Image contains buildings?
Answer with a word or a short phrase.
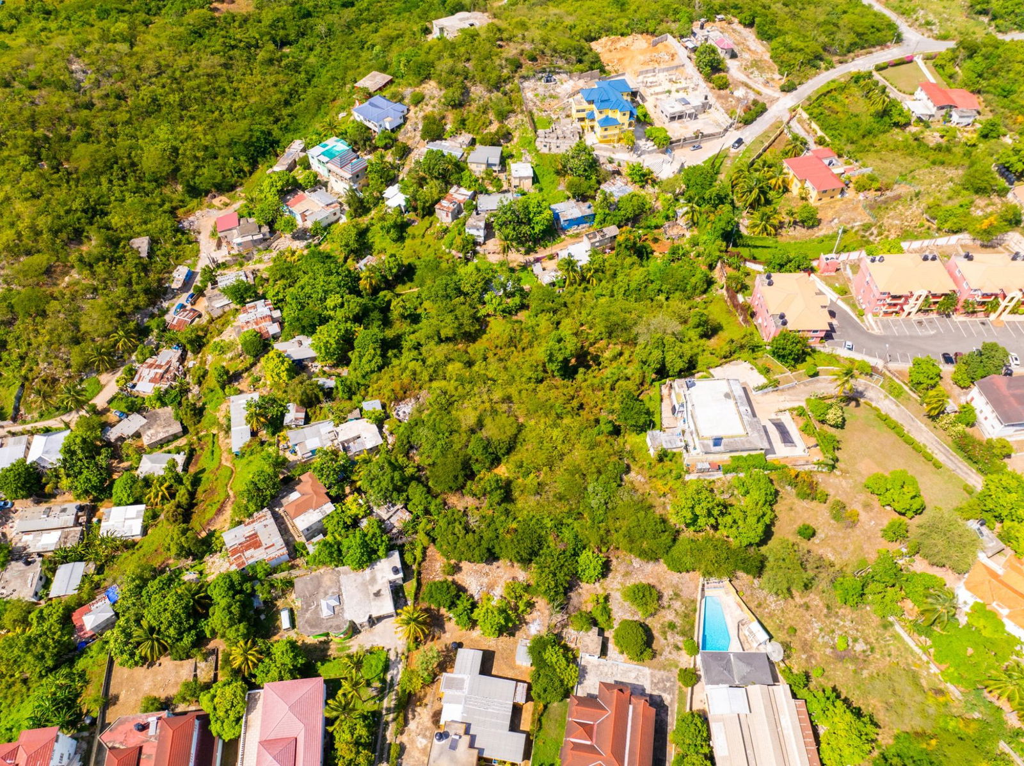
Yes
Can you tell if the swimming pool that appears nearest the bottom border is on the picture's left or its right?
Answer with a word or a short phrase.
right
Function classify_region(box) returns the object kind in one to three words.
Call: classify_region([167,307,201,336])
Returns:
shed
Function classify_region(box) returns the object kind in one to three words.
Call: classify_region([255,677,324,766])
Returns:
house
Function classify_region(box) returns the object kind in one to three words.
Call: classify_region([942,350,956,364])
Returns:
car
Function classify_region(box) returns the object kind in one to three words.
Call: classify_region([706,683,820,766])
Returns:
building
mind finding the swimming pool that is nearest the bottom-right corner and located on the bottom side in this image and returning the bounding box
[700,578,768,652]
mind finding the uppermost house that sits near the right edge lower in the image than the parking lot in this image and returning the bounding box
[969,375,1024,448]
